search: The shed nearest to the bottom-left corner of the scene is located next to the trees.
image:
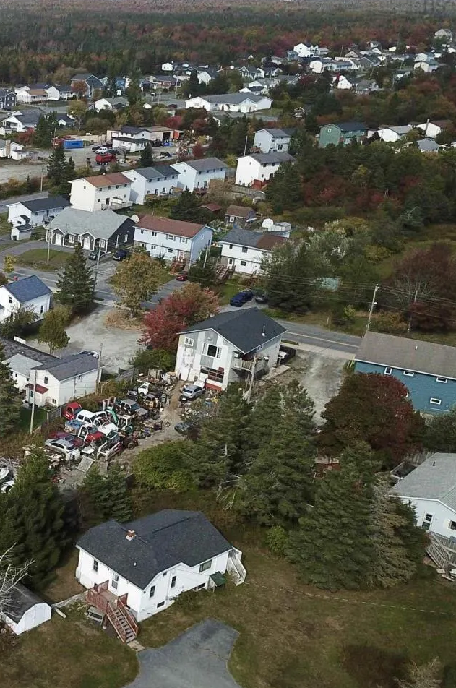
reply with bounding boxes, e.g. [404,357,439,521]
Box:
[0,586,56,642]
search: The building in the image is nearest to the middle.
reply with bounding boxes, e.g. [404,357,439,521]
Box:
[172,310,296,391]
